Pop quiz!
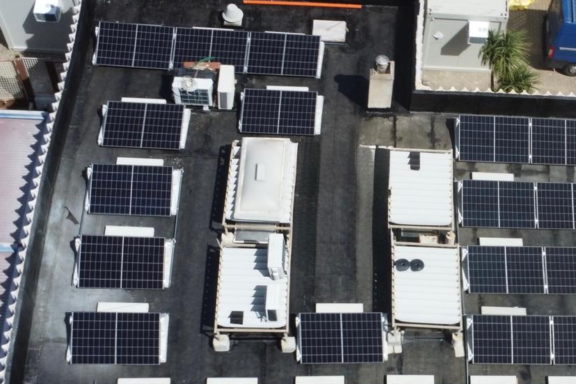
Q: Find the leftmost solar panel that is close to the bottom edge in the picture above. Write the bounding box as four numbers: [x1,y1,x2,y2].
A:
[71,312,161,366]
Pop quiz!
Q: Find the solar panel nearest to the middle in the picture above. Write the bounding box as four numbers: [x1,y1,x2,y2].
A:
[241,87,317,136]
